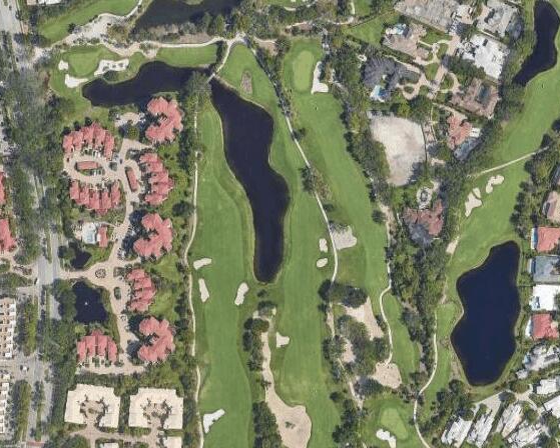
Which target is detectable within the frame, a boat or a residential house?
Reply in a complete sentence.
The one in the frame is a residential house.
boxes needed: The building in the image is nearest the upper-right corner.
[473,0,524,40]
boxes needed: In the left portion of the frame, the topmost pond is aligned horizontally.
[133,0,235,36]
